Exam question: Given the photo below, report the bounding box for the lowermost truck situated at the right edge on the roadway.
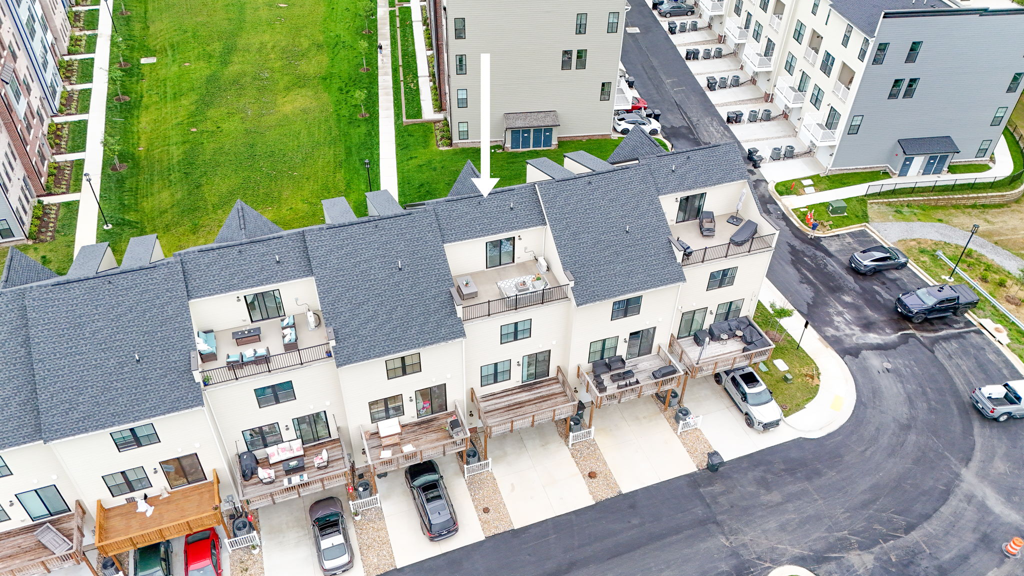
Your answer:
[968,370,1024,418]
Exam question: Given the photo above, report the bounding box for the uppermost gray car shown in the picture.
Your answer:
[660,2,696,16]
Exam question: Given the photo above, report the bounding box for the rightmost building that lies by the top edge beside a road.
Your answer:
[684,0,1024,183]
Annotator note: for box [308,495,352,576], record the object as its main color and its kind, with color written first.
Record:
gray car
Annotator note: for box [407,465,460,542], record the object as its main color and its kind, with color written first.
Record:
gray car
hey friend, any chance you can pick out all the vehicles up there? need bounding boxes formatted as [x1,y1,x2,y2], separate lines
[852,243,914,274]
[308,495,352,576]
[618,115,666,135]
[127,545,171,576]
[968,370,1024,418]
[181,529,226,576]
[895,282,980,320]
[407,465,460,542]
[713,366,785,433]
[616,92,654,114]
[660,2,696,16]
